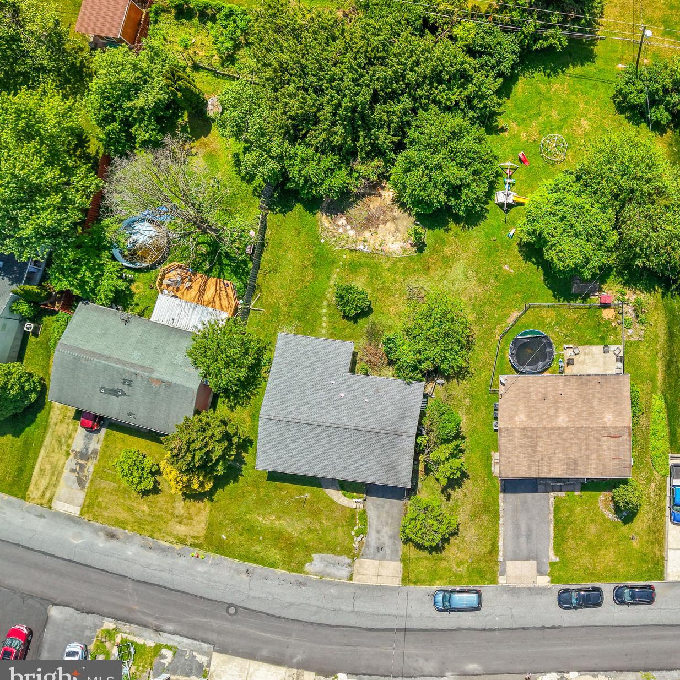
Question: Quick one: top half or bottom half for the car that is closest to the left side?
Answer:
bottom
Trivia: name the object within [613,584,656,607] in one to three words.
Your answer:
car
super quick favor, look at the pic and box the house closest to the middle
[258,332,428,489]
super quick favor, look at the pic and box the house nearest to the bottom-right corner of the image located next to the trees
[498,374,632,479]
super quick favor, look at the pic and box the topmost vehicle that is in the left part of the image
[77,410,104,438]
